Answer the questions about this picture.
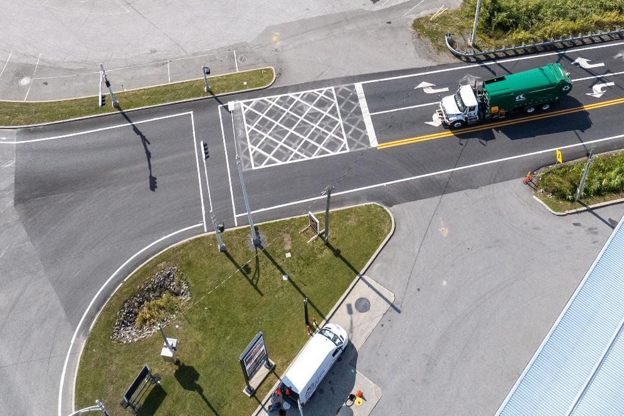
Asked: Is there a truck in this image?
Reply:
Yes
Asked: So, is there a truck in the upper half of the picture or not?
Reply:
Yes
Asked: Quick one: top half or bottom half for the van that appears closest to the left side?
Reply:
bottom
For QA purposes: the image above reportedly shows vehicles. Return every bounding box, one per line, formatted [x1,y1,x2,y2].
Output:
[269,326,355,416]
[434,61,582,129]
